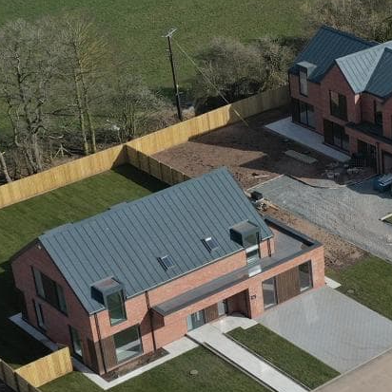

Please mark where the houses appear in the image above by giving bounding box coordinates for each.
[4,164,329,378]
[286,27,392,174]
